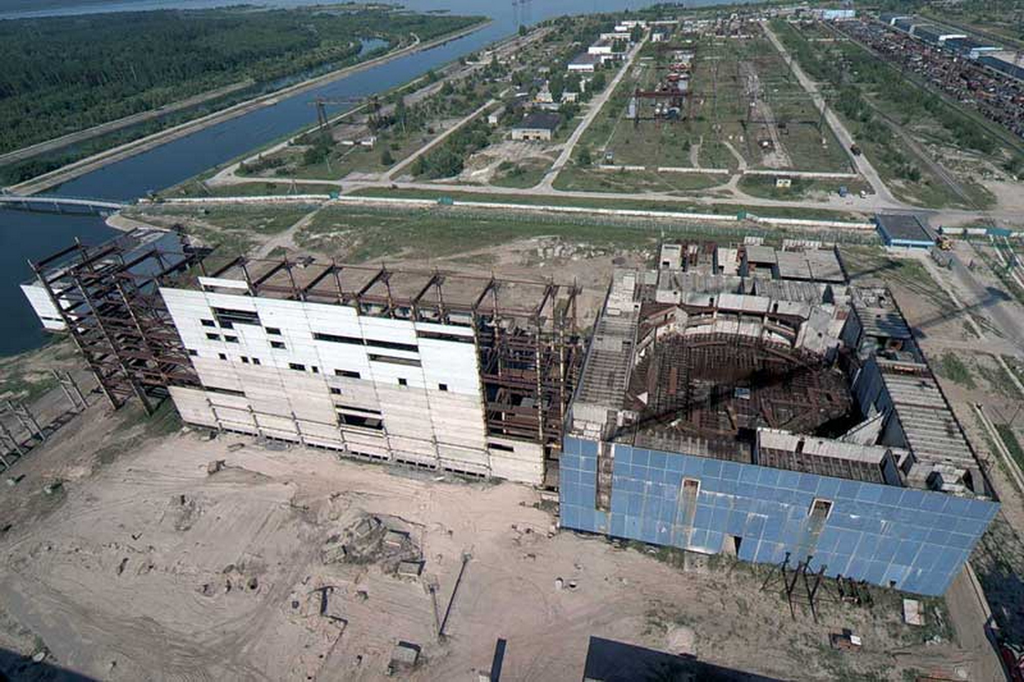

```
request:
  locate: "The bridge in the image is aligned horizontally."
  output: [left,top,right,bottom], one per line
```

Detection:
[0,192,130,215]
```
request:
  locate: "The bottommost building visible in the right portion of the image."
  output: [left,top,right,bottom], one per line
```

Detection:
[563,266,999,594]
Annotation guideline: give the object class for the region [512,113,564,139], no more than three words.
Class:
building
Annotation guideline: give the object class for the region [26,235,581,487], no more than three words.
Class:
building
